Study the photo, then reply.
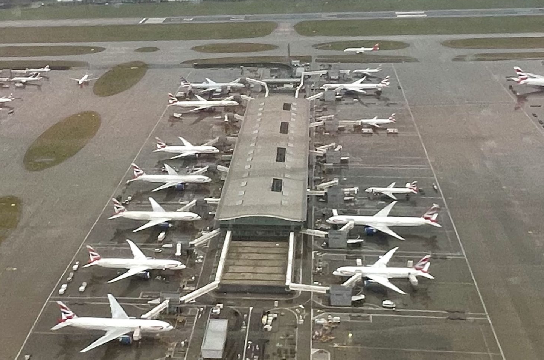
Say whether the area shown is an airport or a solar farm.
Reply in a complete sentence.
This image shows an airport.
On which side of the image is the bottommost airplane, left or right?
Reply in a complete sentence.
The bottommost airplane sits on the left side.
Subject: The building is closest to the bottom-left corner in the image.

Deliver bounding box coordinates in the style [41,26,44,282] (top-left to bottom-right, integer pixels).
[159,288,181,313]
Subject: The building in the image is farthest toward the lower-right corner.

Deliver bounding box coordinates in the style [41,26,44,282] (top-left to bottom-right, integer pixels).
[330,277,352,305]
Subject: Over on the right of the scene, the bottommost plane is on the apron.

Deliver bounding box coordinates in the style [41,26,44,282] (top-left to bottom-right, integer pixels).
[333,247,430,292]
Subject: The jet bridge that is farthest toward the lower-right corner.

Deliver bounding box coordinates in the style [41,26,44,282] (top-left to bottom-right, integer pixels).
[351,271,367,290]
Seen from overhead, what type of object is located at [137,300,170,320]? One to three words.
jet bridge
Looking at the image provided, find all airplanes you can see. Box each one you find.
[169,92,238,112]
[353,64,382,74]
[320,74,390,94]
[52,295,173,356]
[344,43,380,53]
[333,247,430,292]
[361,115,396,126]
[85,239,186,284]
[153,135,220,158]
[365,182,416,199]
[108,194,201,231]
[182,74,244,92]
[12,73,43,83]
[74,73,96,83]
[512,65,544,87]
[129,161,212,190]
[0,93,14,102]
[26,65,51,73]
[327,199,437,241]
